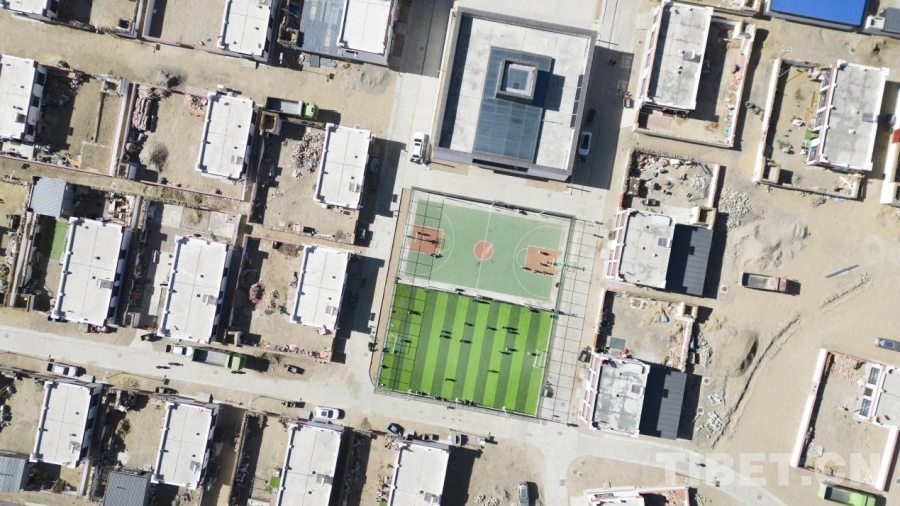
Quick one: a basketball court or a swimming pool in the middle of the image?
basketball court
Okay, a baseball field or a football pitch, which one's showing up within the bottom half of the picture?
football pitch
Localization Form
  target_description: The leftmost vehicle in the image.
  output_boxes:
[47,364,77,378]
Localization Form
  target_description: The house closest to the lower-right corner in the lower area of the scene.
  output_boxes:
[857,362,900,430]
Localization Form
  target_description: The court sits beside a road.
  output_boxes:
[405,200,562,300]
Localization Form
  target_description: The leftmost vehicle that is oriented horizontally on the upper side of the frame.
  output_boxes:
[263,96,317,119]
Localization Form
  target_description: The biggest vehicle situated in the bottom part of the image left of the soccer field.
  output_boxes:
[186,349,244,372]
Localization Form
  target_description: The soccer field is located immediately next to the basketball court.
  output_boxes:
[378,286,554,416]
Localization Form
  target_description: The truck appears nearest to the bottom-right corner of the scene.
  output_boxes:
[823,484,883,506]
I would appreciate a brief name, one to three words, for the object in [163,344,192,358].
vehicle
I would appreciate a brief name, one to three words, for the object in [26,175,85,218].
shed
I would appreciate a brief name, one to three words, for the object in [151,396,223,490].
house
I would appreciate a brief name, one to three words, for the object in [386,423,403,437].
car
